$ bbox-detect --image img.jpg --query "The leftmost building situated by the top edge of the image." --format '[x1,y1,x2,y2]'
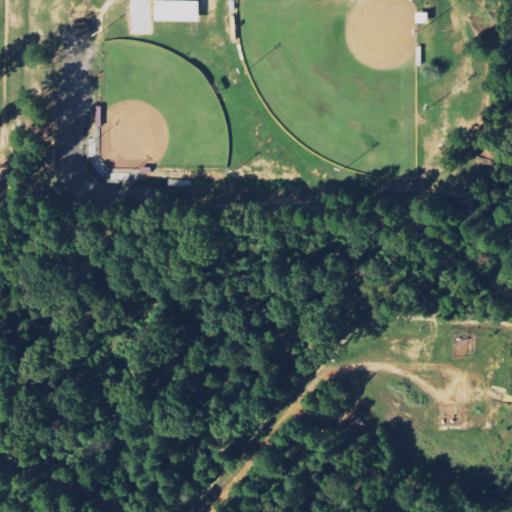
[154,0,199,22]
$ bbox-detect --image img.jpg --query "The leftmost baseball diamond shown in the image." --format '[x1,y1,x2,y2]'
[100,37,229,168]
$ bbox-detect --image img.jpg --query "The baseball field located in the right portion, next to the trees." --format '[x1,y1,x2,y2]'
[237,0,416,179]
